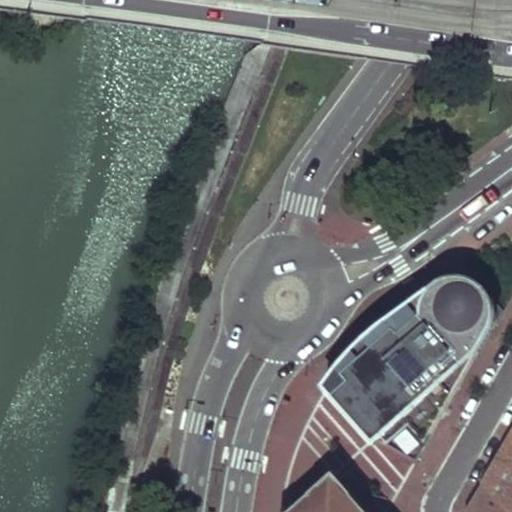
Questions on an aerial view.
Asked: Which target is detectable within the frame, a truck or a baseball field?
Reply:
truck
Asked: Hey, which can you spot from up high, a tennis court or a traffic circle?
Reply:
traffic circle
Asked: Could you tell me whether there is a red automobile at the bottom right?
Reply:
No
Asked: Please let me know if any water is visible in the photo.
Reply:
Yes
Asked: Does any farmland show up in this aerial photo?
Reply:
No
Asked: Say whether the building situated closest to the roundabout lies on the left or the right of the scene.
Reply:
right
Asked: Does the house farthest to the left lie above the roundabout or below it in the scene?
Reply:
below it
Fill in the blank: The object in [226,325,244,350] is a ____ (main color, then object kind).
white car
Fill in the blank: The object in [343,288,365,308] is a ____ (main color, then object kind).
white car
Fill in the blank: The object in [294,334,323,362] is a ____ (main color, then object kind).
white vehicle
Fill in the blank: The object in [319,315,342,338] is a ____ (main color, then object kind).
white vehicle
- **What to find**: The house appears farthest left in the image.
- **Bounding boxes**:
[288,471,368,512]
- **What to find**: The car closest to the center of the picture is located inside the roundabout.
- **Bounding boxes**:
[274,262,297,274]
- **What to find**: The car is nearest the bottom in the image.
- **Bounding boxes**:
[469,460,486,482]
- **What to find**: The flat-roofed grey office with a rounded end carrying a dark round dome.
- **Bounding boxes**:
[318,276,494,443]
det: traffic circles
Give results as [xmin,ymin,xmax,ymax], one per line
[213,212,360,364]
